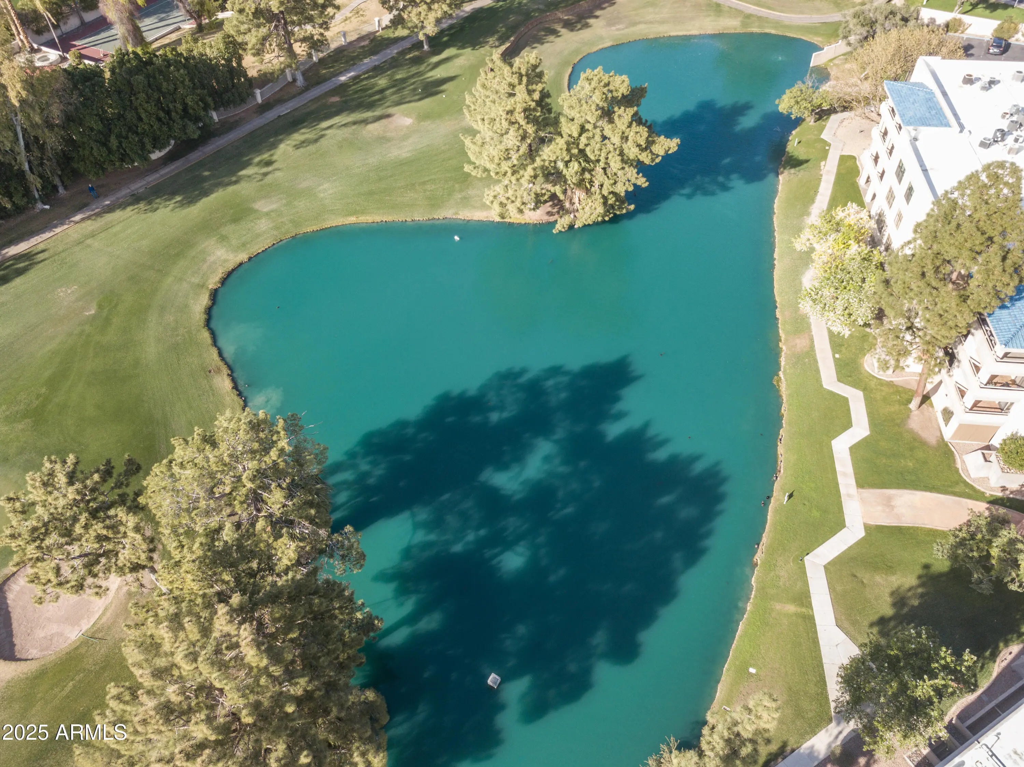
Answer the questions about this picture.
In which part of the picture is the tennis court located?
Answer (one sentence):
The tennis court is in the top left part of the image.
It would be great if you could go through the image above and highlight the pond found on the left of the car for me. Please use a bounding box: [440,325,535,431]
[207,33,829,767]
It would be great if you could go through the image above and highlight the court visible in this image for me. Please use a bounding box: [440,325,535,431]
[39,0,231,62]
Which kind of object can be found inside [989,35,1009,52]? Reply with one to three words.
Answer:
car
